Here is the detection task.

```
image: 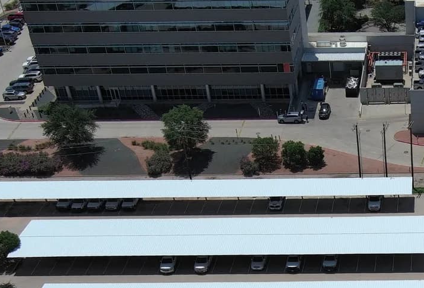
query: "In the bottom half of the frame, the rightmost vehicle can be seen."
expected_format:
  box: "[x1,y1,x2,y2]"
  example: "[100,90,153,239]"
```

[368,197,382,210]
